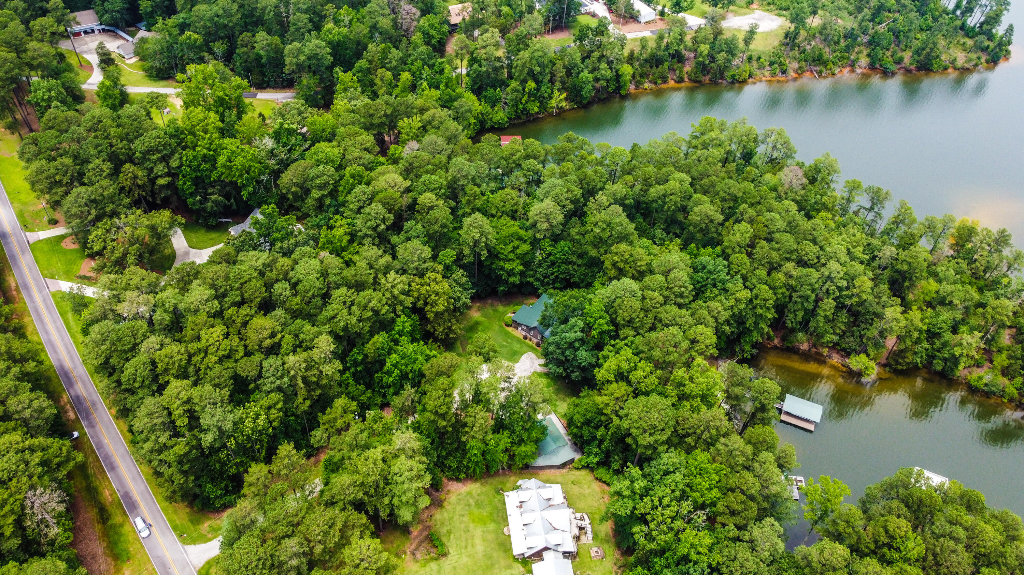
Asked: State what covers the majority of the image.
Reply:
trees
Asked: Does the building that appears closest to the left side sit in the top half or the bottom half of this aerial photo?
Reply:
top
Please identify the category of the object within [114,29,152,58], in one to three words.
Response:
house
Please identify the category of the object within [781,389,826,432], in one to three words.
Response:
building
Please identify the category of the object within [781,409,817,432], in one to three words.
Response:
pier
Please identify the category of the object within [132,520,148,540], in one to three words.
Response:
car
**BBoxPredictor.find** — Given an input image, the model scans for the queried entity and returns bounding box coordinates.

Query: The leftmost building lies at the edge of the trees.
[63,14,107,38]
